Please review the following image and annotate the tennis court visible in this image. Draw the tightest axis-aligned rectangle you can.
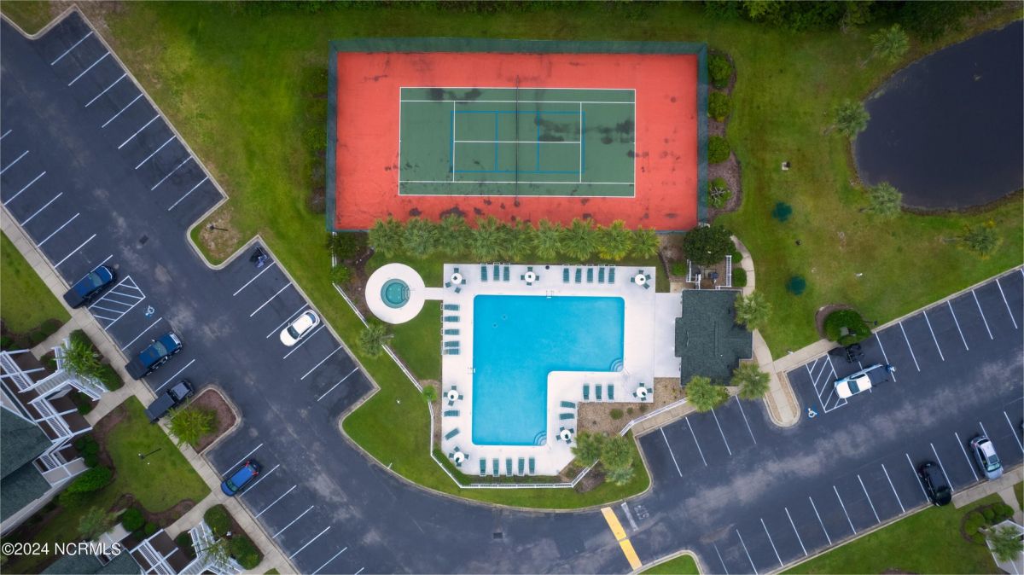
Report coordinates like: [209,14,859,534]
[336,51,698,234]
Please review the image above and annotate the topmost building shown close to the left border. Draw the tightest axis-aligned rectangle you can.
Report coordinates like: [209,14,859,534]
[0,340,109,534]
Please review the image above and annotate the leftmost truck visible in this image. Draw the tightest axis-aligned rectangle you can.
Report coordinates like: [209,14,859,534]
[64,265,121,312]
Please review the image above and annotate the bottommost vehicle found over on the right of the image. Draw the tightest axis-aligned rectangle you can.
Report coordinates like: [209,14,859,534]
[915,459,950,505]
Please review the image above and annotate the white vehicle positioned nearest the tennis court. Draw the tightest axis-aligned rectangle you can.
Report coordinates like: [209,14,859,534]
[281,307,323,346]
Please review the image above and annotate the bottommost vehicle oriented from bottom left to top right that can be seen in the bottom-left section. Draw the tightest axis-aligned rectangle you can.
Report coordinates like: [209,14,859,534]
[223,458,262,494]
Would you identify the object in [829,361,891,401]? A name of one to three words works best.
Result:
truck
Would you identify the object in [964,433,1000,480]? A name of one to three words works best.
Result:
car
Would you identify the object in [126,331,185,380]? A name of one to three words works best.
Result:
truck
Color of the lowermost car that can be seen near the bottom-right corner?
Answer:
black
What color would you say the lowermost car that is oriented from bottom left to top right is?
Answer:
blue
